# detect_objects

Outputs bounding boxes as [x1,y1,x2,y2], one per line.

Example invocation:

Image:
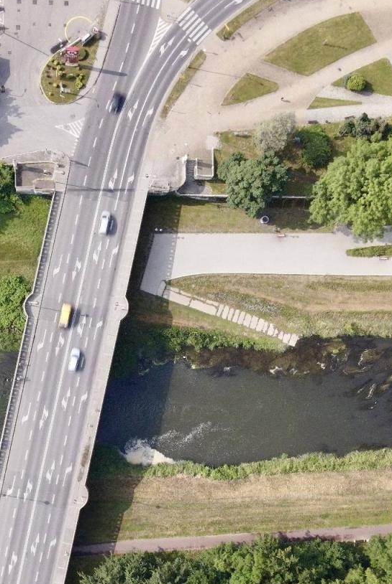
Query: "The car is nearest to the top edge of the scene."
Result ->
[109,91,122,114]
